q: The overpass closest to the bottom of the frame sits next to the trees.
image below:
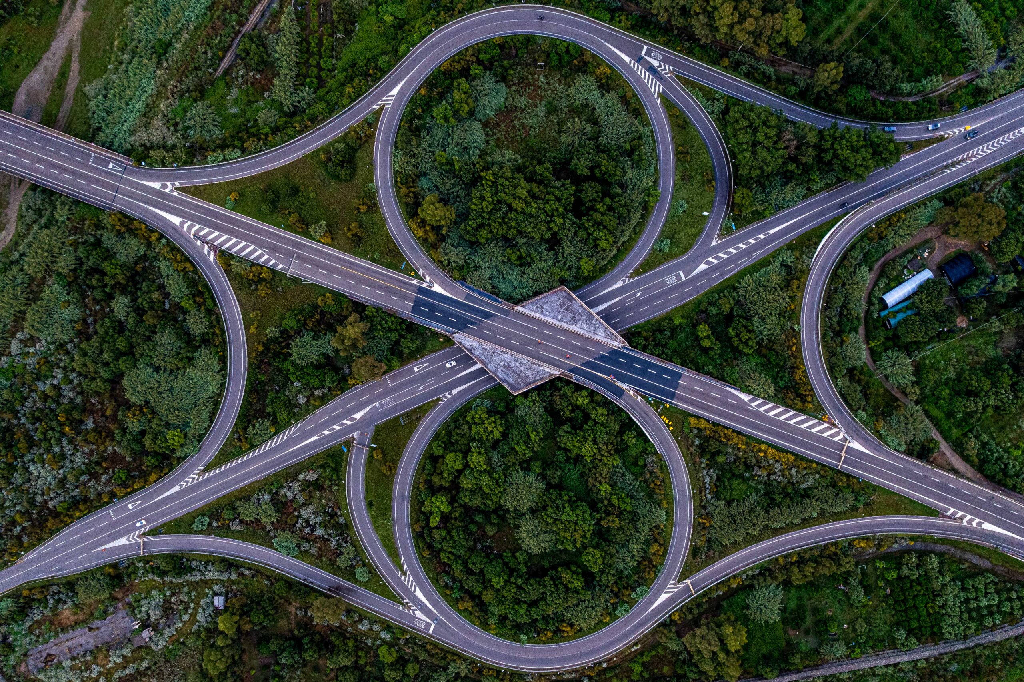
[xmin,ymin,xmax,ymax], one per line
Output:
[346,280,741,463]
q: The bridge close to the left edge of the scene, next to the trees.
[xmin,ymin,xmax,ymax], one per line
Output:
[0,109,135,213]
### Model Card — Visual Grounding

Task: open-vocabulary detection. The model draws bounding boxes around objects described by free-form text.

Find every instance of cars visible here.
[840,202,850,209]
[445,360,457,368]
[885,126,898,132]
[929,122,941,129]
[135,520,145,527]
[433,616,441,625]
[967,130,980,138]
